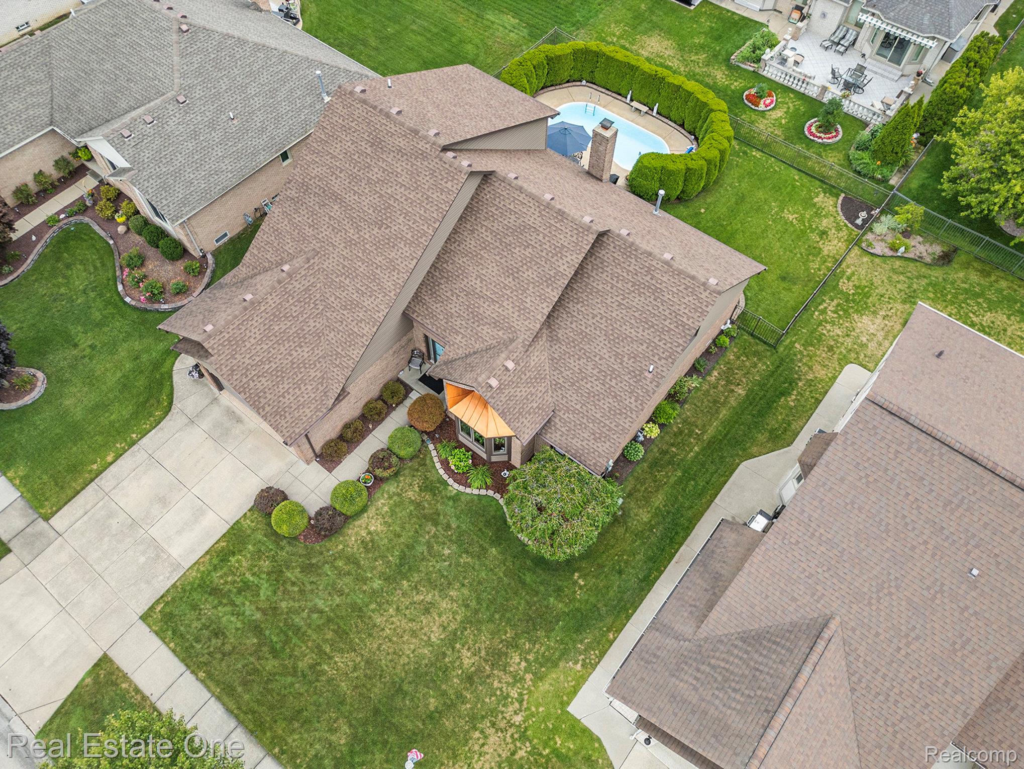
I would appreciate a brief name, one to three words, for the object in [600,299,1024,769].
house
